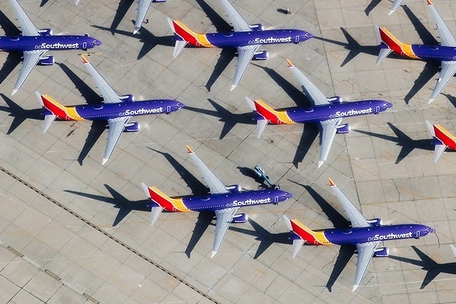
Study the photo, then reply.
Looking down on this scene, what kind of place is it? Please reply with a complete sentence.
It's an airport.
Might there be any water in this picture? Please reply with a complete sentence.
No, there is no water in the image.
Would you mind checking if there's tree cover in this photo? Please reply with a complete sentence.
No, tree cover can't be seen anywhere here.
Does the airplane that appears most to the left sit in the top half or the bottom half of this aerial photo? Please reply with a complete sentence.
The airplane that appears most to the left sits in the top half of the picture.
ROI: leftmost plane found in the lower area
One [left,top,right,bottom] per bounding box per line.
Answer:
[140,146,292,259]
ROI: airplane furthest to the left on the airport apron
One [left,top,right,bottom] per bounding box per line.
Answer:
[0,0,100,95]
